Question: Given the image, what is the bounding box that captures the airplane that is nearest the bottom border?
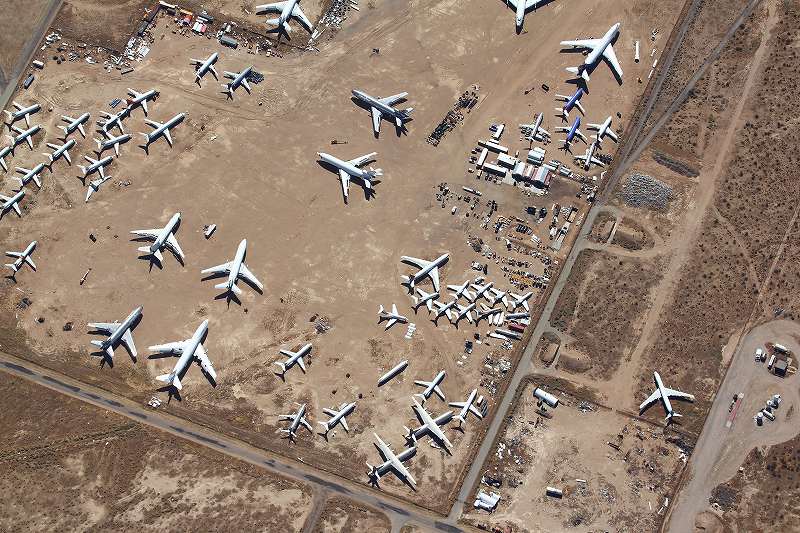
[368,435,418,487]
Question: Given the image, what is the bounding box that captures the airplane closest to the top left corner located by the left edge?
[9,102,40,125]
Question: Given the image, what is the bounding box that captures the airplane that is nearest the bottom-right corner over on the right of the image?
[639,372,693,419]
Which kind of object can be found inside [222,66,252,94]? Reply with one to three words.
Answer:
airplane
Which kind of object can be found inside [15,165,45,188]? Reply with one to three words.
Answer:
airplane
